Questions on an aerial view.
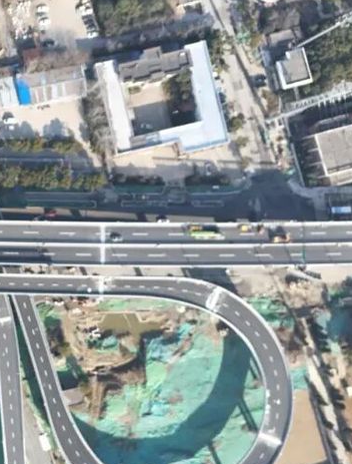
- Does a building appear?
Yes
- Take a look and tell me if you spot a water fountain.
No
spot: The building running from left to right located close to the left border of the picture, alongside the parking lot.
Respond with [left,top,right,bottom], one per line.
[17,63,90,103]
